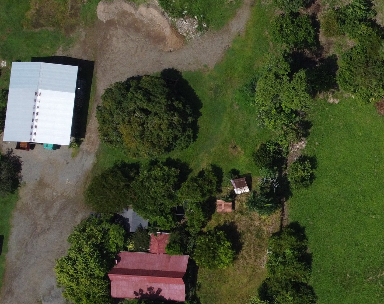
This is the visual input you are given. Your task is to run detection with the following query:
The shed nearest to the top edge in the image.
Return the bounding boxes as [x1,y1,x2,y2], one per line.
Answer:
[3,62,89,145]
